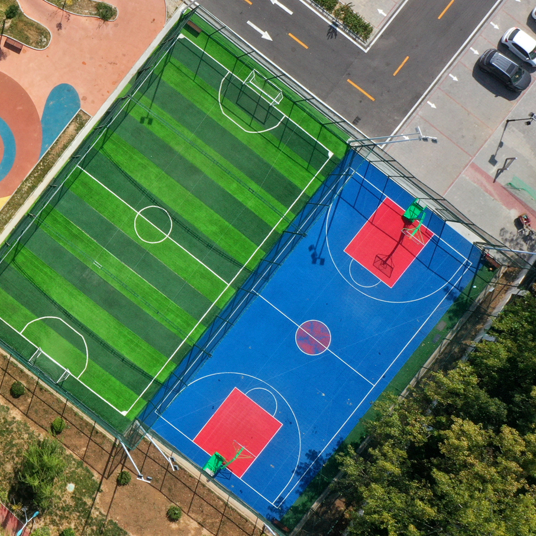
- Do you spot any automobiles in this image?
Yes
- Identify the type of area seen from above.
sports ground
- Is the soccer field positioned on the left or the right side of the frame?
left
